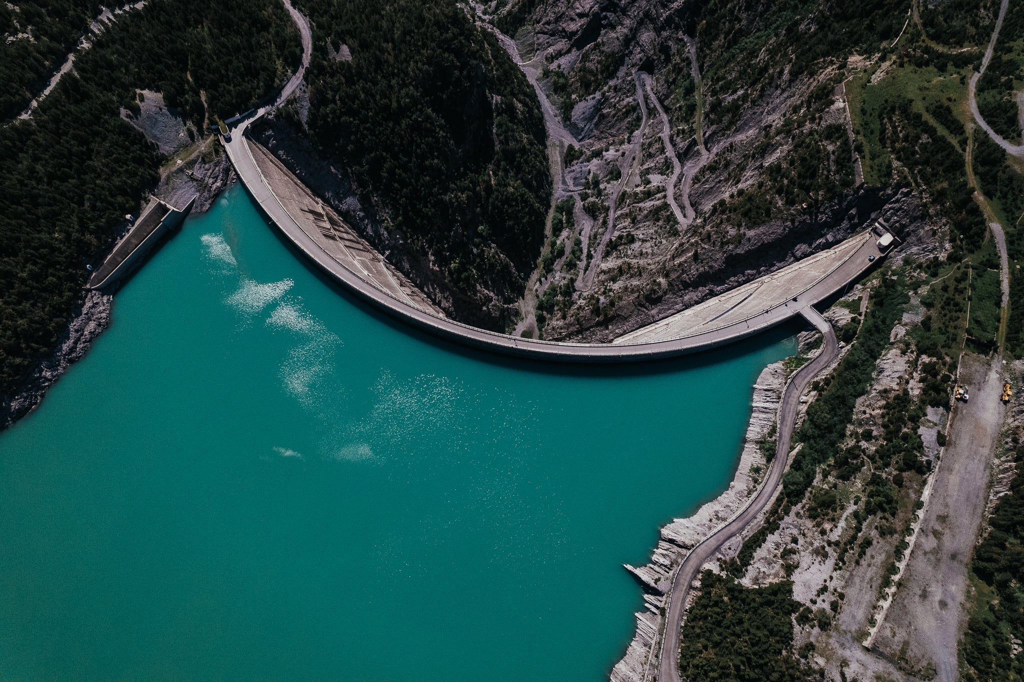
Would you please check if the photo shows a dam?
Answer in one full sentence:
Yes, I can see a dam in this picture.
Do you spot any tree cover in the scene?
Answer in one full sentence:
Yes, the picture does contain tree cover.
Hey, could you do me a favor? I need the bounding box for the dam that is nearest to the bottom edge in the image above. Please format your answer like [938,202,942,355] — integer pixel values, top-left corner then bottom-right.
[221,137,894,363]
